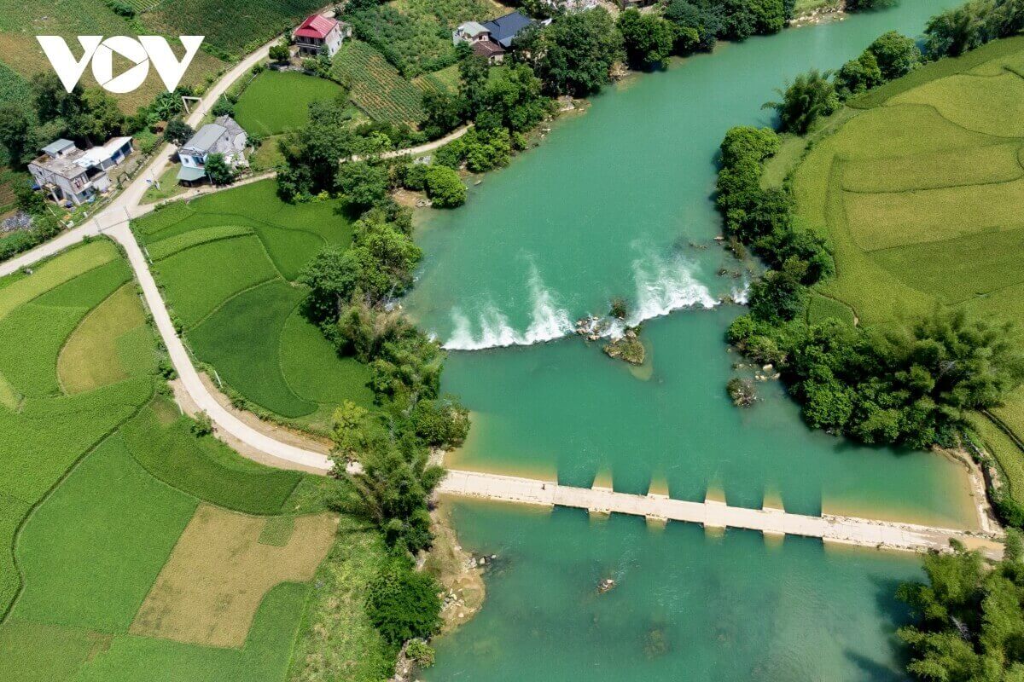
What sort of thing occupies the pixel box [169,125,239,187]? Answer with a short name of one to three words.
house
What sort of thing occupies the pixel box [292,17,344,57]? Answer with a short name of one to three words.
house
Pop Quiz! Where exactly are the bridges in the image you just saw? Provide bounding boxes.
[424,471,987,556]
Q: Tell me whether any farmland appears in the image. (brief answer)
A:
Yes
